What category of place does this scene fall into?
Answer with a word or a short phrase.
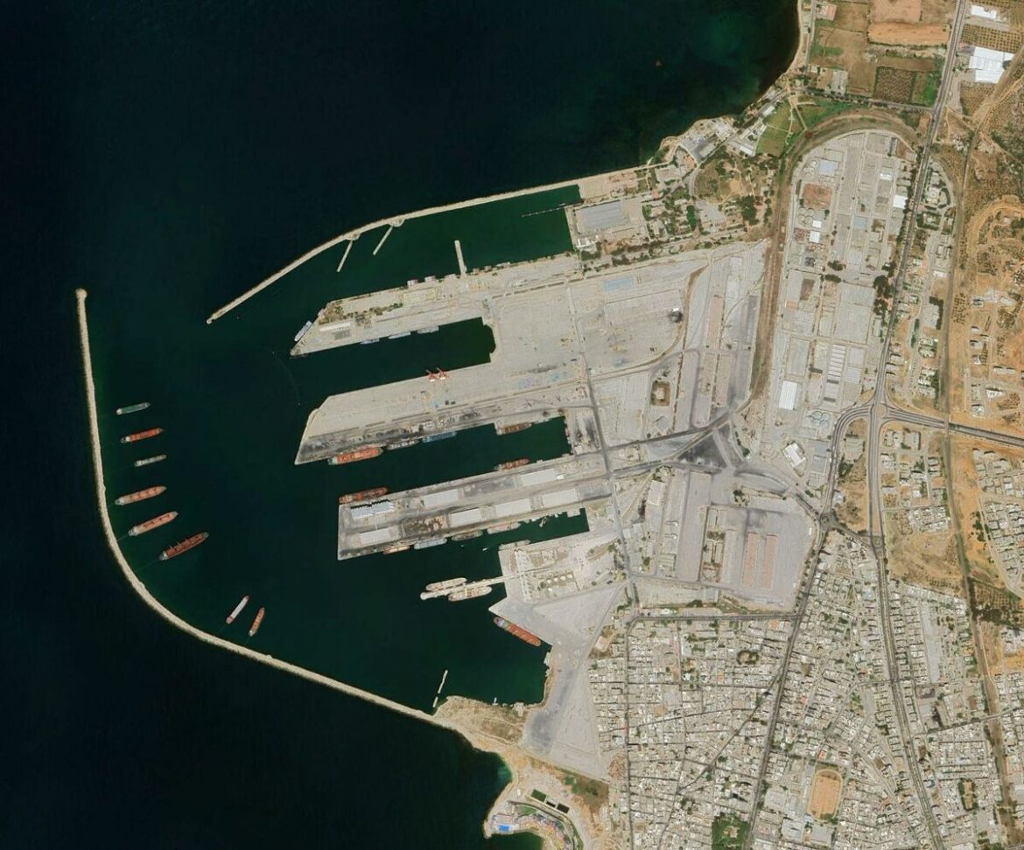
port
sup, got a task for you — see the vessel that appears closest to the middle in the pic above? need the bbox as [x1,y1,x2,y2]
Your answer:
[496,422,532,435]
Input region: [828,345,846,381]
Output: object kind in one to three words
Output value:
building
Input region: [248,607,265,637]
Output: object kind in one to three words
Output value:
ship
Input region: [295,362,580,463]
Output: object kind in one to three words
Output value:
pier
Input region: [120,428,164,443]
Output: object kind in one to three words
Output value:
ship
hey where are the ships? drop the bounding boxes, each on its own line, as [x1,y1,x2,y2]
[158,533,210,562]
[499,540,530,550]
[417,324,440,332]
[452,530,483,541]
[414,538,447,550]
[360,339,380,345]
[383,545,410,555]
[495,458,529,471]
[388,332,410,339]
[422,430,457,443]
[487,522,522,534]
[114,486,168,506]
[327,447,384,466]
[425,578,468,591]
[496,422,532,435]
[116,402,151,414]
[448,586,493,601]
[127,512,180,537]
[492,616,542,646]
[225,596,248,624]
[248,607,265,637]
[386,439,421,450]
[338,487,388,504]
[134,455,166,466]
[120,428,164,443]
